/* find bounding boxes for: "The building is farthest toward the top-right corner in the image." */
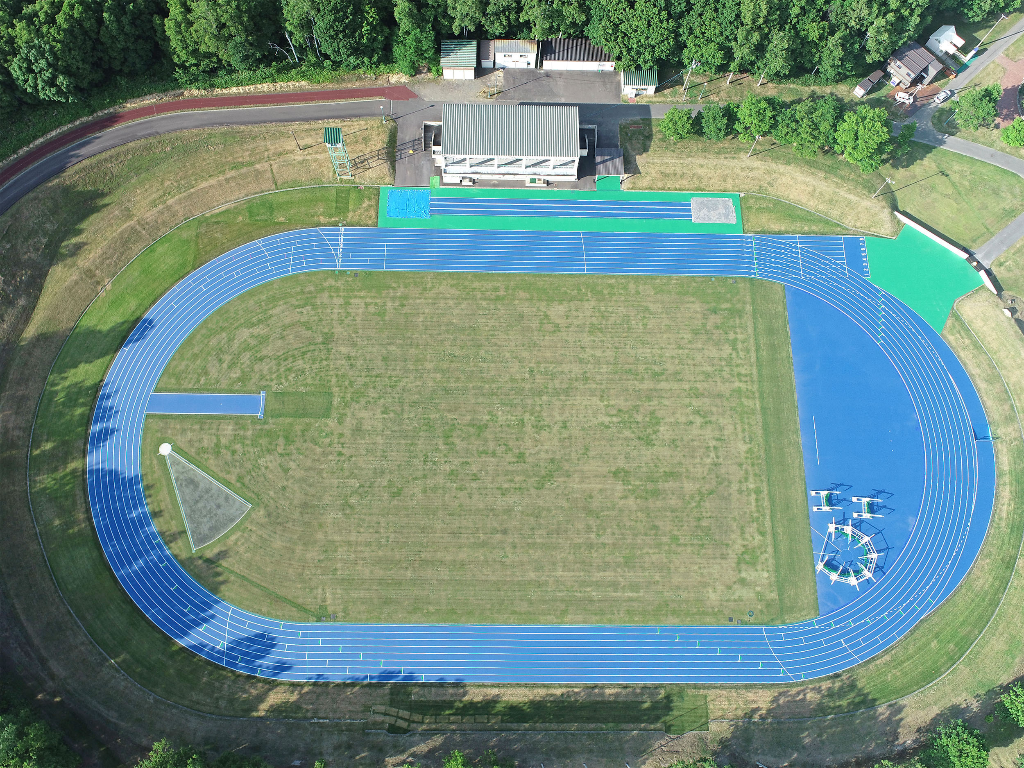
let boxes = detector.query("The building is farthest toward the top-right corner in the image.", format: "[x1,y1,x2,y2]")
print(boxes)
[923,25,968,74]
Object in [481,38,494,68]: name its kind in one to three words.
shed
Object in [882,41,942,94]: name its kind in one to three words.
house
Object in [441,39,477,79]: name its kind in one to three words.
building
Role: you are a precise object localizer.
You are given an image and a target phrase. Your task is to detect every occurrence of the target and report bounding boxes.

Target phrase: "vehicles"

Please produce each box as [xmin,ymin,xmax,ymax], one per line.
[936,89,953,104]
[895,89,917,106]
